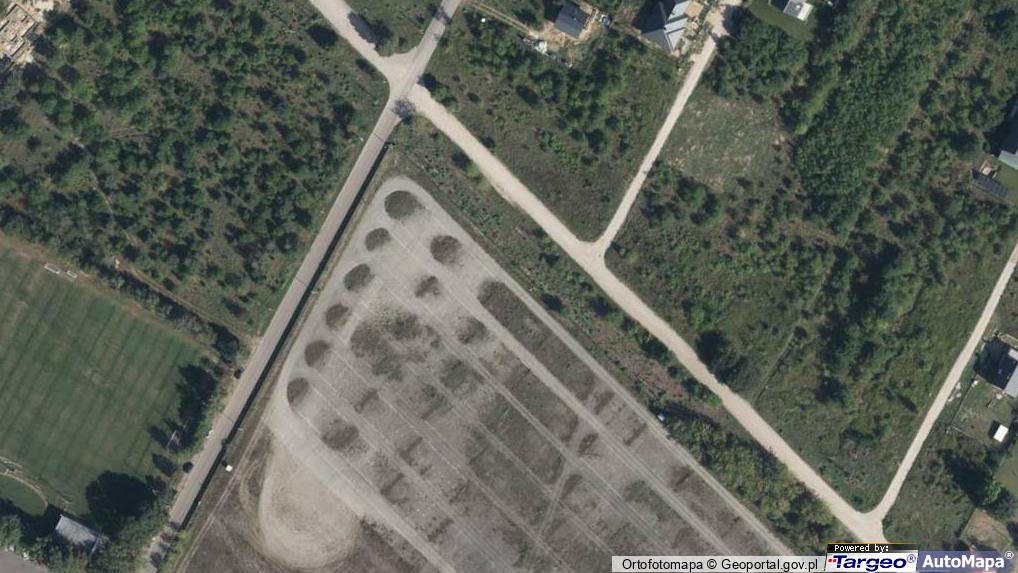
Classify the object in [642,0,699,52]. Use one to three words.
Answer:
house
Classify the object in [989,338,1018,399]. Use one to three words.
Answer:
house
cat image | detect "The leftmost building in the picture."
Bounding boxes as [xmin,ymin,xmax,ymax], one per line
[54,516,95,549]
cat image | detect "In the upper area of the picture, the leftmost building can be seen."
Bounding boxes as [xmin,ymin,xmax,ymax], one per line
[555,1,590,38]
